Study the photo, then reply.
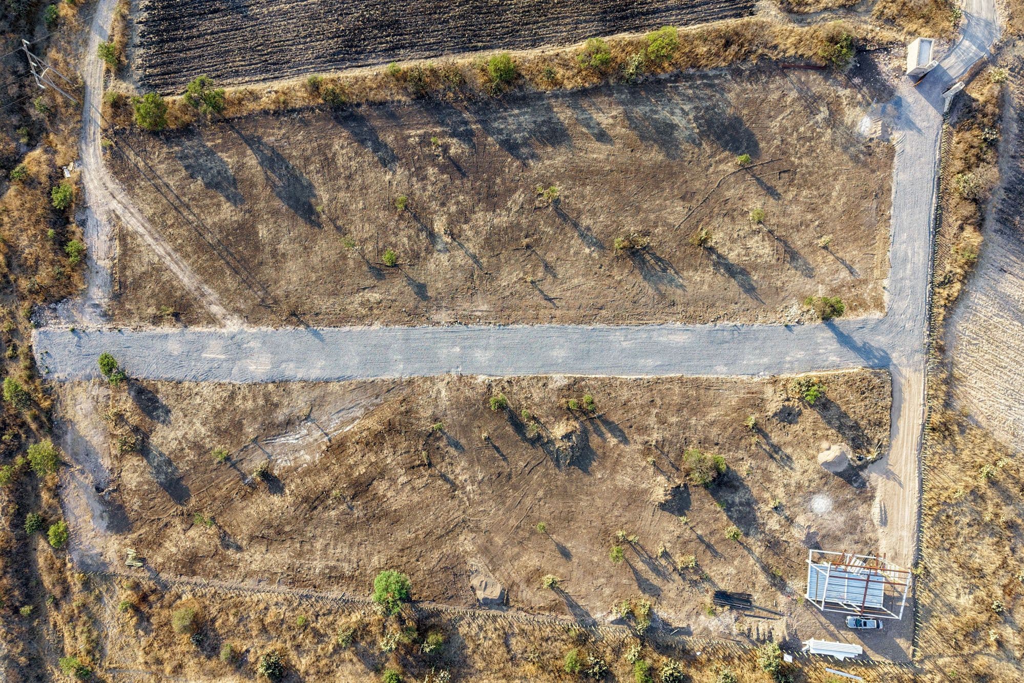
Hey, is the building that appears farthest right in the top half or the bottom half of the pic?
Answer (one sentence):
The building that appears farthest right is in the top half of the image.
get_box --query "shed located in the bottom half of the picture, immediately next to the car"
[801,549,911,620]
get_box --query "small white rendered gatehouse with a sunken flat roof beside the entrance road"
[907,37,936,75]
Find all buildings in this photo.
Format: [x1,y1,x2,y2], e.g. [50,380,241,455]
[907,37,936,75]
[801,549,911,620]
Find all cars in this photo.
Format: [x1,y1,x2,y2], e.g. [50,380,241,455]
[845,614,884,632]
